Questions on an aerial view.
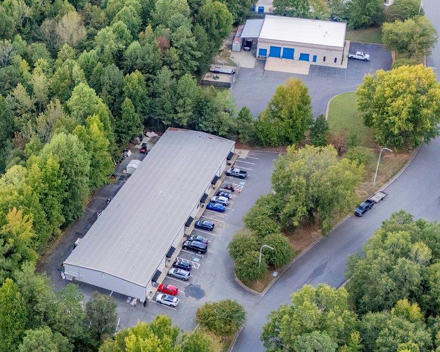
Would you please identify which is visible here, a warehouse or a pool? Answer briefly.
warehouse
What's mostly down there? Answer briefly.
trees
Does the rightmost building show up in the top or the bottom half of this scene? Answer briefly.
top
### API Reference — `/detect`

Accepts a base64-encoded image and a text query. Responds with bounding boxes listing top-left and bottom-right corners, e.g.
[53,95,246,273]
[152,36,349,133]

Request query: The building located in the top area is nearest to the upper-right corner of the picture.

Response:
[257,16,346,65]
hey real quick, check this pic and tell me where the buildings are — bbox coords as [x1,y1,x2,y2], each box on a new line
[63,126,239,304]
[257,16,346,65]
